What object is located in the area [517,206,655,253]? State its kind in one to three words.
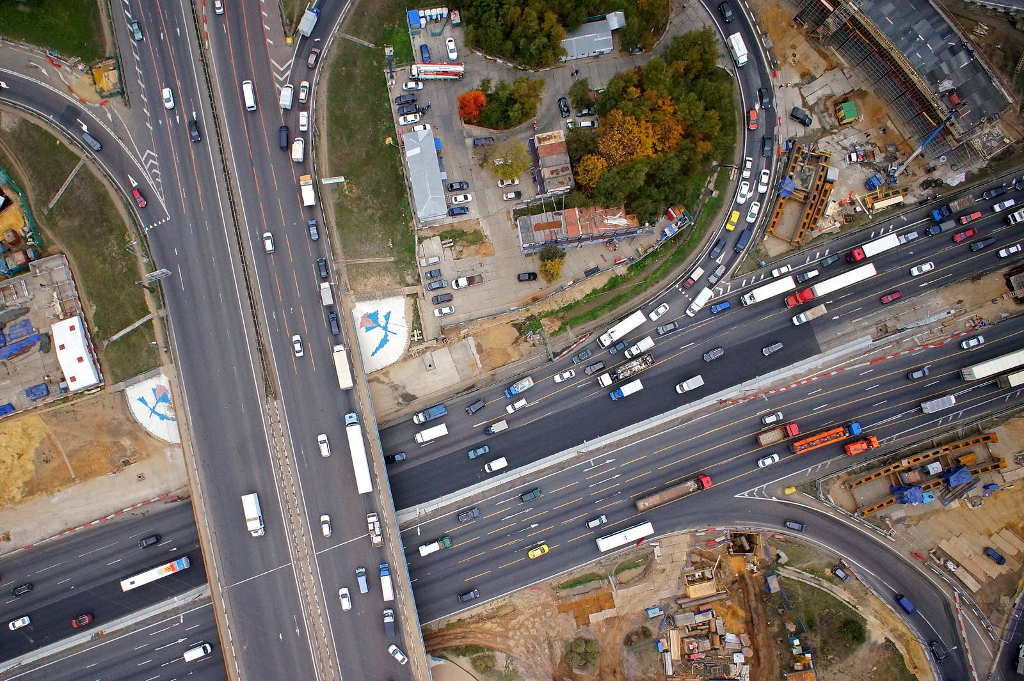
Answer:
house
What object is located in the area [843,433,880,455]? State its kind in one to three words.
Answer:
truck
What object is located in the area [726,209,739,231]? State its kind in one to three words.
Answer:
vehicle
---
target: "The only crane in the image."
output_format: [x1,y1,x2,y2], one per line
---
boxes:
[860,103,969,192]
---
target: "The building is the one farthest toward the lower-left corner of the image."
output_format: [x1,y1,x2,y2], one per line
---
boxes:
[53,316,112,392]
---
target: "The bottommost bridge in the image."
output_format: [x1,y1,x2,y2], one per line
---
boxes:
[162,333,433,681]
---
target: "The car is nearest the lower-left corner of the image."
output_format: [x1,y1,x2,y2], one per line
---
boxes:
[8,615,33,631]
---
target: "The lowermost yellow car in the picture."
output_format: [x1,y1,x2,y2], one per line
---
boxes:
[527,544,549,559]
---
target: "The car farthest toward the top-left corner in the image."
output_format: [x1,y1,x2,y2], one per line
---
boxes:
[131,19,143,42]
